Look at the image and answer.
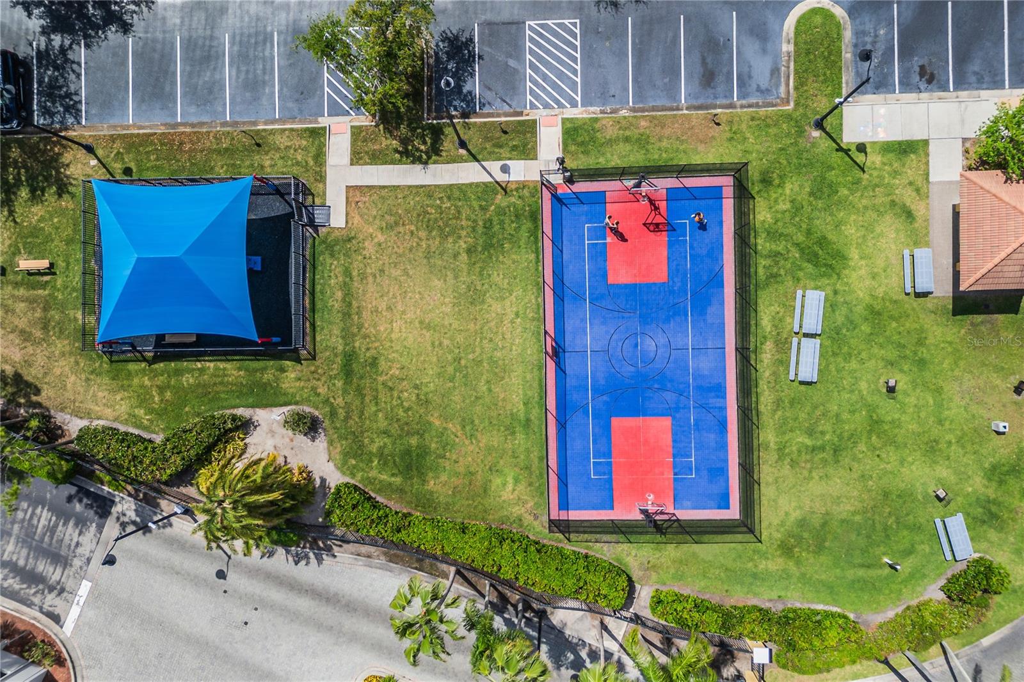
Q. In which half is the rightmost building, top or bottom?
top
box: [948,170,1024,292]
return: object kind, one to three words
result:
building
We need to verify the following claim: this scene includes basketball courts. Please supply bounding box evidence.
[540,172,741,522]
